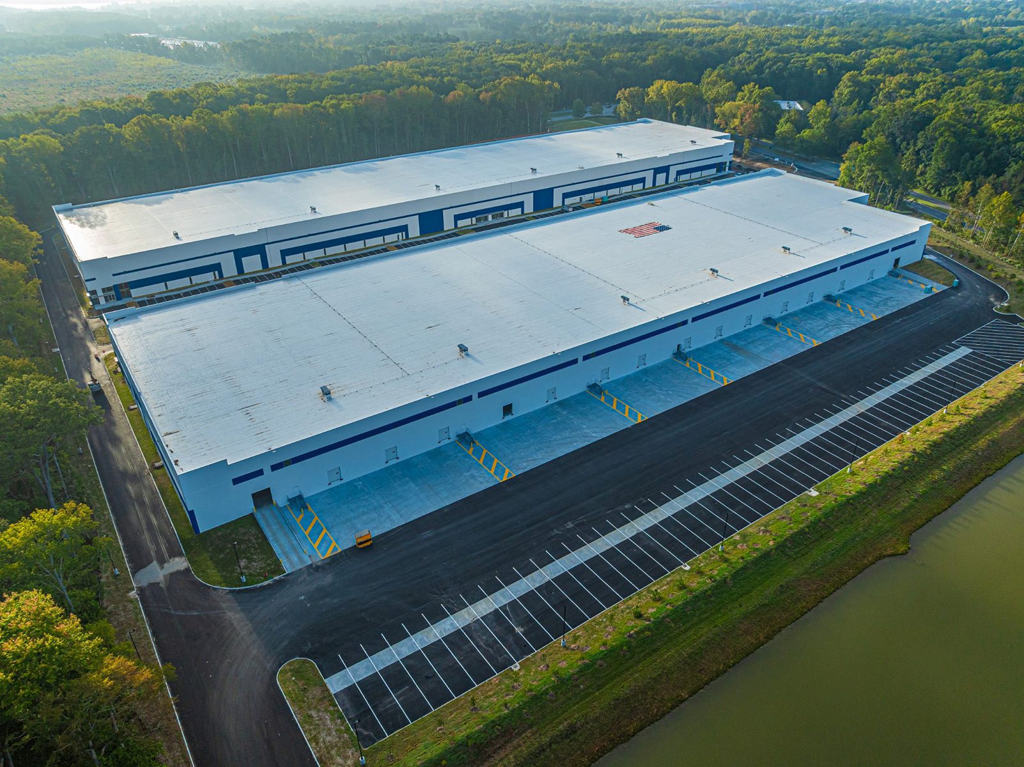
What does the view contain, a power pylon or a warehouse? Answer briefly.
warehouse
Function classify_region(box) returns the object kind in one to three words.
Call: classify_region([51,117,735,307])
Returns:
warehouse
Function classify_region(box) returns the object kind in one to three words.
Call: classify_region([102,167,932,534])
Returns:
warehouse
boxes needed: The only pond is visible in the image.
[600,455,1024,767]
